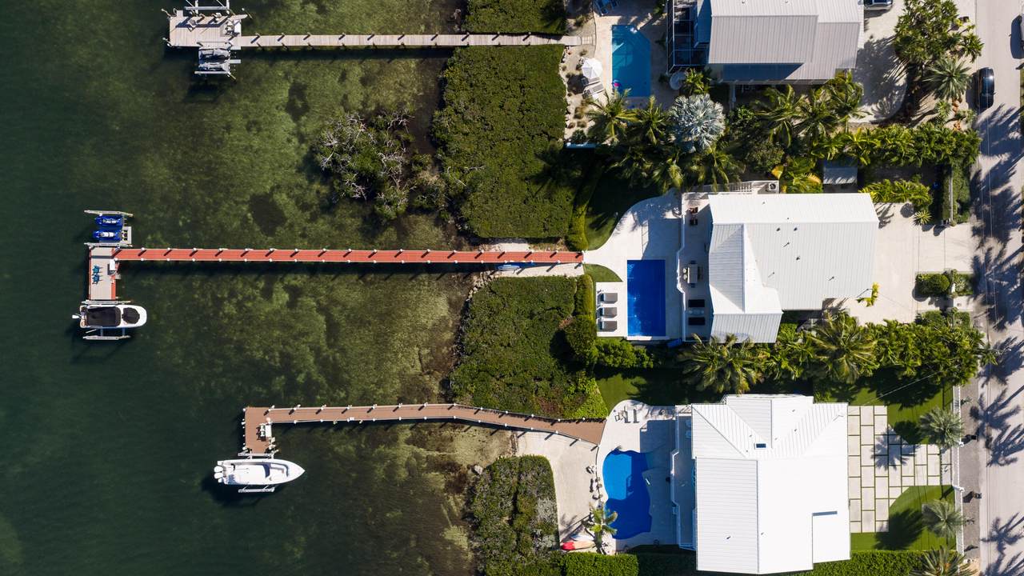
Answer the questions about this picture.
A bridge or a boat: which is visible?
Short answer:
boat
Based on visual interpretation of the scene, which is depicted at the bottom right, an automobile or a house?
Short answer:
house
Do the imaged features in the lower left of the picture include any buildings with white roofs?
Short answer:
No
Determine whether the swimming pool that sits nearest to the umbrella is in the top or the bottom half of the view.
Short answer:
top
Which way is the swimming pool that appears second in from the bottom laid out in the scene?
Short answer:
up and down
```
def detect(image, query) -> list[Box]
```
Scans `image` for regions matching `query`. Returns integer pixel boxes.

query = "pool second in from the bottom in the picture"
[628,260,666,336]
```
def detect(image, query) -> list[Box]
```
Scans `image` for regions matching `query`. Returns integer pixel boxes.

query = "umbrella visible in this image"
[580,58,602,81]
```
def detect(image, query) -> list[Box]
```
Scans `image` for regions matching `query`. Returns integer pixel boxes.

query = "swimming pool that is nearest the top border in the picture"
[613,24,651,96]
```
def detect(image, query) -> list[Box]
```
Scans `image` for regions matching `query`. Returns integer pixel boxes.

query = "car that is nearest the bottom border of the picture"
[971,67,997,111]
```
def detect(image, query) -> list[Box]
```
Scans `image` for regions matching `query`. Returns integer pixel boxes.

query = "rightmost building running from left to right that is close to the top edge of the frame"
[668,0,862,94]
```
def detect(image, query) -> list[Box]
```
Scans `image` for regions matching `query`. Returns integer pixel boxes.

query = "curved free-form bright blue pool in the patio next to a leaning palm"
[604,450,653,541]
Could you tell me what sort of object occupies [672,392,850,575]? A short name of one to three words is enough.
house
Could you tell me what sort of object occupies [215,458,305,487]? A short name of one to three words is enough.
boat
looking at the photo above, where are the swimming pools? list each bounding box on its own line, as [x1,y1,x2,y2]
[604,450,653,541]
[613,24,651,96]
[628,260,666,336]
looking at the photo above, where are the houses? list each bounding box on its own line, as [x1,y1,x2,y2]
[672,392,850,575]
[668,0,862,94]
[677,181,879,344]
